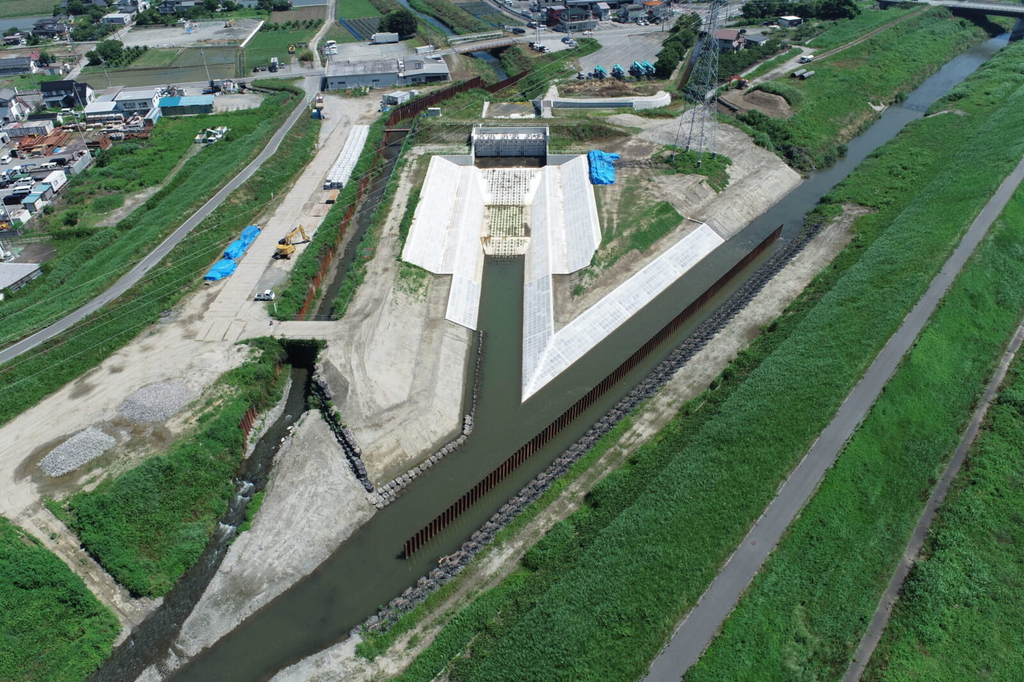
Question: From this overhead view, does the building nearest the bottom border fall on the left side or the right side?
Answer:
left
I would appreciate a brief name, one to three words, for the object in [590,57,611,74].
work vehicle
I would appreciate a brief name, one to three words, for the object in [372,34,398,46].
vehicle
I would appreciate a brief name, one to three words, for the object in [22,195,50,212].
shed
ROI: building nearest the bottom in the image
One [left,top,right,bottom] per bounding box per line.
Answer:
[0,260,45,312]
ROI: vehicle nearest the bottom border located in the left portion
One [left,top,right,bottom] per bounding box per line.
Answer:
[250,286,273,300]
